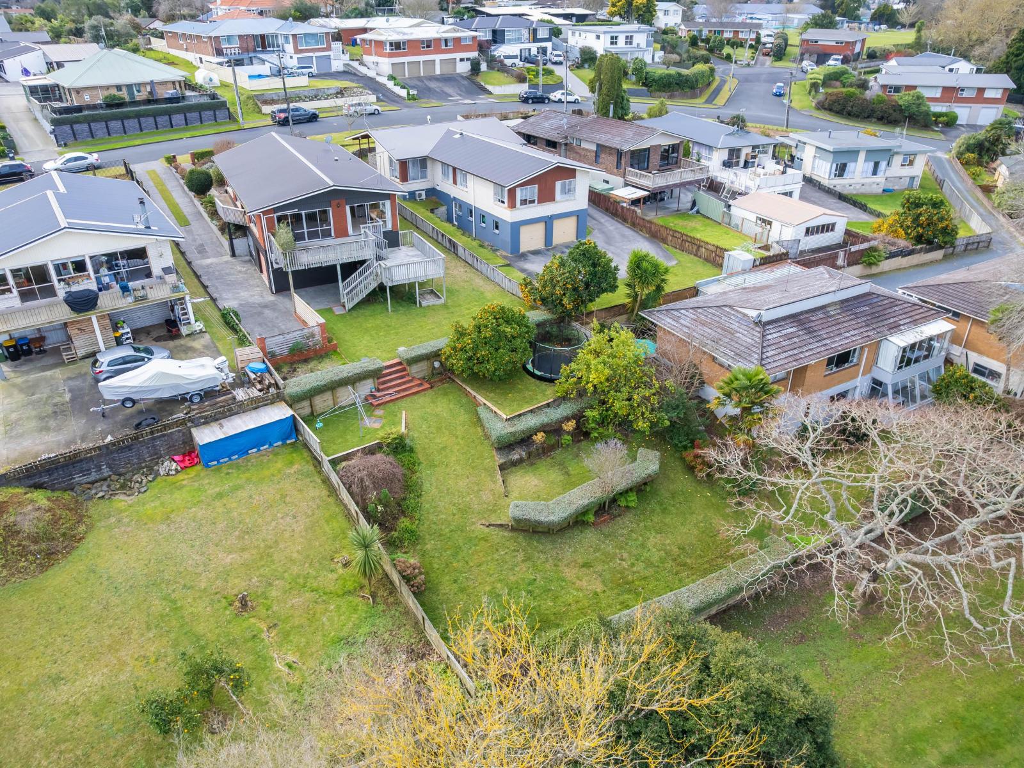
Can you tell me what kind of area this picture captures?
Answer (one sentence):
It's a residential area.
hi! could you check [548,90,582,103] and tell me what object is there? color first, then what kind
white vehicle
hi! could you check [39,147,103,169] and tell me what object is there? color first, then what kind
white car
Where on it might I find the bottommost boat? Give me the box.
[159,446,202,465]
